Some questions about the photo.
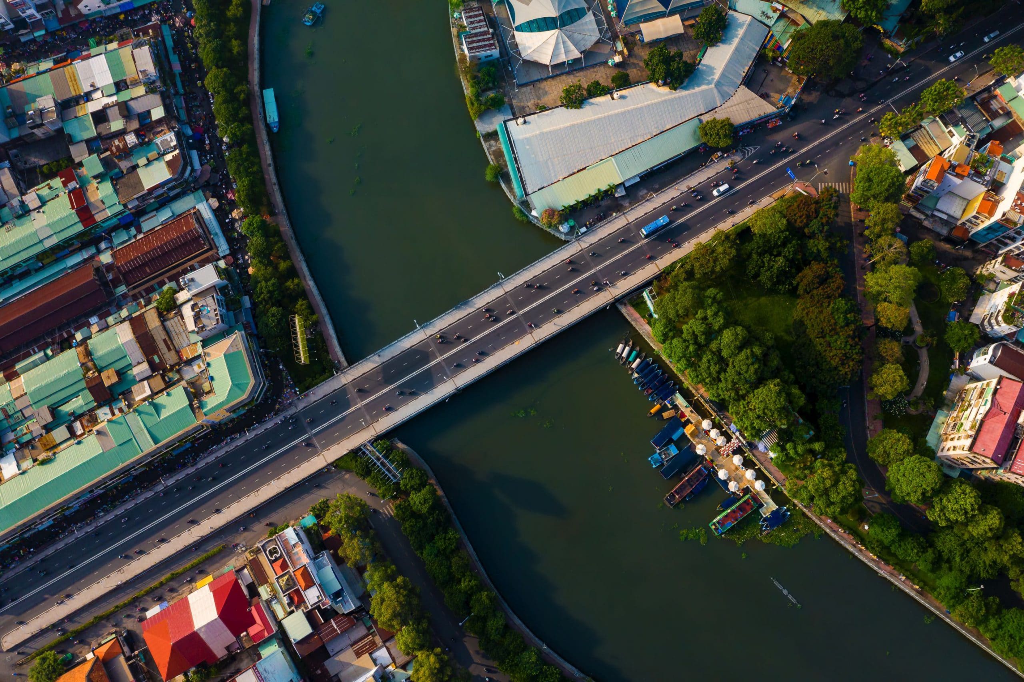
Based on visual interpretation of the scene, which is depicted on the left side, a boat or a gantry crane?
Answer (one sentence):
The one visible on the left side is a boat.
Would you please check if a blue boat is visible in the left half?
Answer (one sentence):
Yes, looking in the left half, one can make out a blue boat.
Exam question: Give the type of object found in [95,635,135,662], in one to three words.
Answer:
house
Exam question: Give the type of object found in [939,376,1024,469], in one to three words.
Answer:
building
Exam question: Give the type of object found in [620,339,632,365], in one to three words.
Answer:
boat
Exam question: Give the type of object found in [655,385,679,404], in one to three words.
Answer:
boat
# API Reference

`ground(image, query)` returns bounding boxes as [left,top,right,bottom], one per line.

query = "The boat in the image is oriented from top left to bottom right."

[711,469,732,494]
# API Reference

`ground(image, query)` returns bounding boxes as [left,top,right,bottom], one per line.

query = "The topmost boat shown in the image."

[301,0,324,25]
